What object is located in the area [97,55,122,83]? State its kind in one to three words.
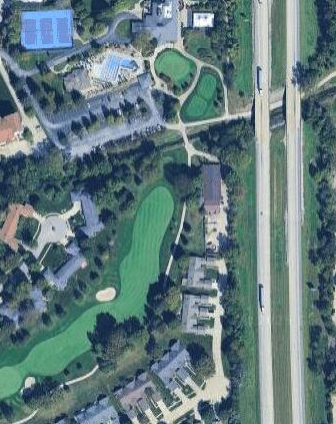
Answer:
swimming pool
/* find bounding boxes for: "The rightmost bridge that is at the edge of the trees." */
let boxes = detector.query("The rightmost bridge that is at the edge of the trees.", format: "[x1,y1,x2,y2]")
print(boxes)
[286,77,302,128]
